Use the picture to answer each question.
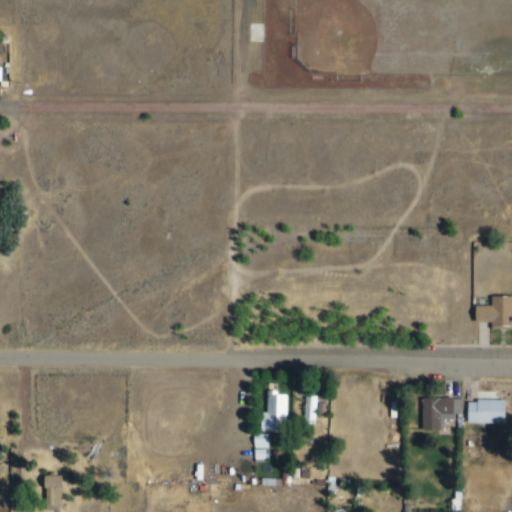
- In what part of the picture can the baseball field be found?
top right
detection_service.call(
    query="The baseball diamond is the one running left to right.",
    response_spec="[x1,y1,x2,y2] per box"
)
[249,0,512,90]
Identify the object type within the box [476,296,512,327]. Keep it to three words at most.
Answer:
house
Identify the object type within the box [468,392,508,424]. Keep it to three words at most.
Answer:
house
